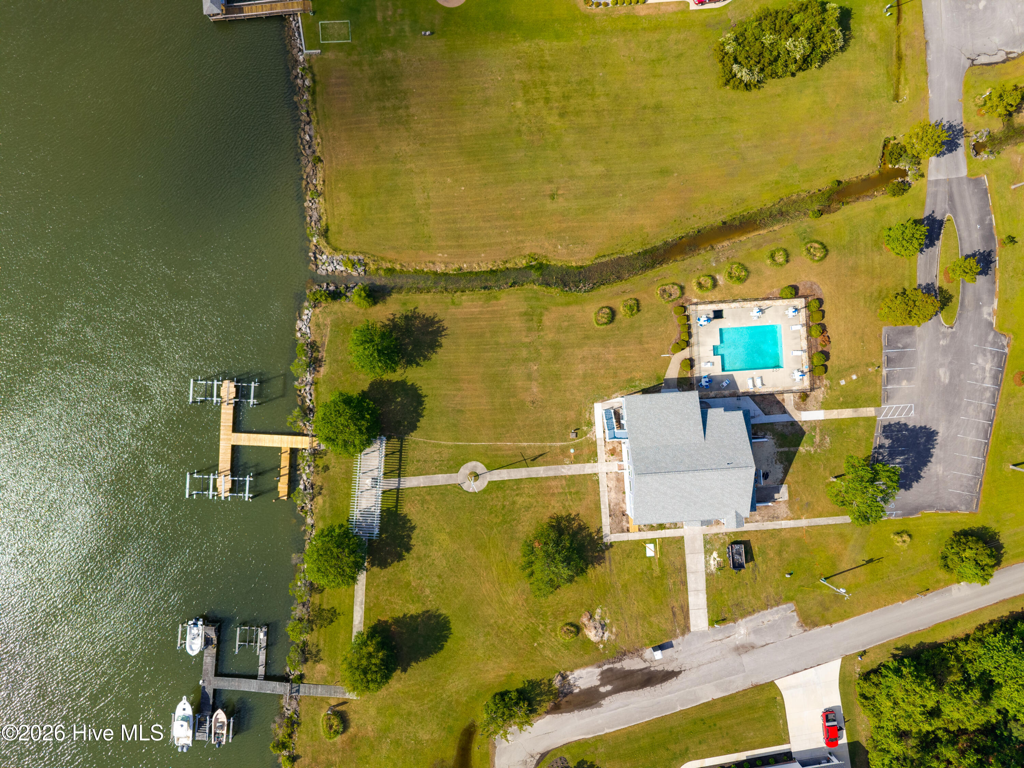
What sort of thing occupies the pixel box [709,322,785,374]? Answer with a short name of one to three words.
swimming pool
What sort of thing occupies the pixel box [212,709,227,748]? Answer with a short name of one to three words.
boat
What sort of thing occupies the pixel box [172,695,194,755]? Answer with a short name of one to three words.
boat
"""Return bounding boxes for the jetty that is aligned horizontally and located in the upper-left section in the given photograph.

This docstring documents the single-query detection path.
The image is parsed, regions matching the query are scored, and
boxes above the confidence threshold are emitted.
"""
[208,0,312,25]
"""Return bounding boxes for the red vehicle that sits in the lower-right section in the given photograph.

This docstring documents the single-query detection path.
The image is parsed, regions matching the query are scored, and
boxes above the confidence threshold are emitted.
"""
[819,709,838,747]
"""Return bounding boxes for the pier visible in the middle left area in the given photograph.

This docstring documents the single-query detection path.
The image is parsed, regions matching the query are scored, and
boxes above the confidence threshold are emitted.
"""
[217,380,327,502]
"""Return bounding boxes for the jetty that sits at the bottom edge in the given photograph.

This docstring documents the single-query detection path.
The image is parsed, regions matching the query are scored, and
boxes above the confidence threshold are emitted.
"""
[197,622,359,740]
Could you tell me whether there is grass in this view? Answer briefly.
Yes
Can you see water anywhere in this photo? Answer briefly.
Yes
